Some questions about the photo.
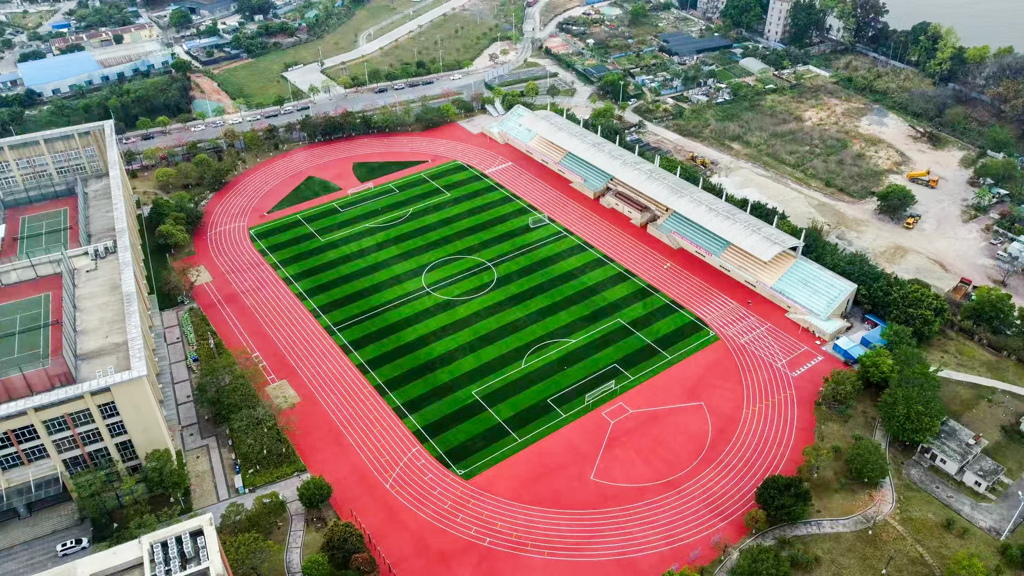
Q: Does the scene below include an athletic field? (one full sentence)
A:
Yes, this view includes an athletic field.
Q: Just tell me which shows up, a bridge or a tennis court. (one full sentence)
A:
There is a tennis court in the scene.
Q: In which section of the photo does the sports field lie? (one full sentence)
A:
The sports field sits in the center section of the image.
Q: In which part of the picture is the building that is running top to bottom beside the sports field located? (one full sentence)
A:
The building that is running top to bottom beside the sports field sits in the left section of the image.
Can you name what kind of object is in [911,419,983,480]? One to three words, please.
house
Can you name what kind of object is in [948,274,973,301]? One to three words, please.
truck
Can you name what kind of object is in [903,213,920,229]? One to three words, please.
work vehicle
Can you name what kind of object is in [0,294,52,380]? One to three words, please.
tennis court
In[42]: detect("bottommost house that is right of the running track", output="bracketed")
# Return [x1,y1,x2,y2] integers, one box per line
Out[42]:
[959,453,1003,494]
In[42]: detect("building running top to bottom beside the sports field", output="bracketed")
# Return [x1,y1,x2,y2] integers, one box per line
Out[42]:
[0,122,184,542]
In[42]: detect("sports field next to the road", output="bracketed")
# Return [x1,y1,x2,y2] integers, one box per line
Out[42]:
[247,159,720,481]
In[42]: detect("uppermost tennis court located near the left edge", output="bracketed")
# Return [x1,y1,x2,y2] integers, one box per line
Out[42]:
[7,208,67,258]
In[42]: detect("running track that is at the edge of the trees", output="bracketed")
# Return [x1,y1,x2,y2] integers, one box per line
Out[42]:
[172,123,848,576]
